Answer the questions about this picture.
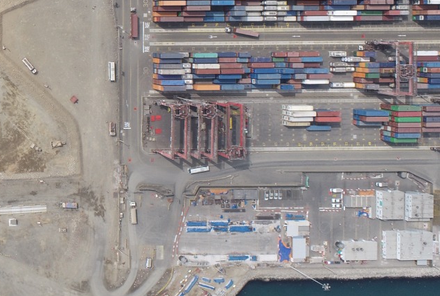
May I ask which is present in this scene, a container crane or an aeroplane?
container crane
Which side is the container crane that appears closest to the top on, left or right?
right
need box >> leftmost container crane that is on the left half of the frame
[148,99,191,160]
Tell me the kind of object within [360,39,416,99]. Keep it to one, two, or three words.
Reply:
container crane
